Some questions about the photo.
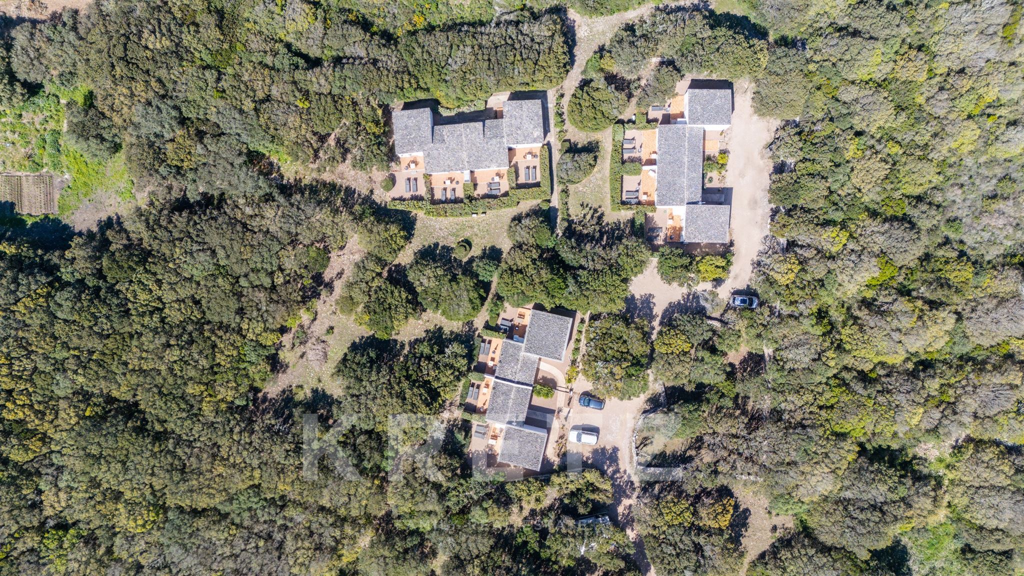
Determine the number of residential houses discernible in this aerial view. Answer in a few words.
3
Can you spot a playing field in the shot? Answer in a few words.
No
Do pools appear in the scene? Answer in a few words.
No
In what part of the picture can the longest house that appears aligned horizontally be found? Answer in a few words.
top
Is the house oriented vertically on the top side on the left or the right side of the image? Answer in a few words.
right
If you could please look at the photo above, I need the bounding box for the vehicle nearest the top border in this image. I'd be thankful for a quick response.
[730,295,759,309]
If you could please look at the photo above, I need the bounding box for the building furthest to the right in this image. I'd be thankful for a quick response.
[653,89,731,244]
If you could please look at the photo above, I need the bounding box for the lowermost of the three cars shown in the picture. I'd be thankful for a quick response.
[568,430,598,445]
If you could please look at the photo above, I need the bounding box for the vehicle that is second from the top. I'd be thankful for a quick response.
[577,395,605,410]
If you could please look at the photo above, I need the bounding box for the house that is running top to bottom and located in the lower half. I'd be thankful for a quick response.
[485,310,573,471]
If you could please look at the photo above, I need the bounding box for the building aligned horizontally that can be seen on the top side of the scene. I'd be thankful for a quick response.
[392,100,544,175]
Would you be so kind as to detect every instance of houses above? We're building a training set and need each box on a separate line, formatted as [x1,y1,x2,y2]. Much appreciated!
[392,100,544,175]
[485,310,573,471]
[653,89,731,244]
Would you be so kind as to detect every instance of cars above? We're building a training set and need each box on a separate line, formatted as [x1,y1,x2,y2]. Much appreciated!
[568,430,598,445]
[577,395,605,410]
[730,295,759,309]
